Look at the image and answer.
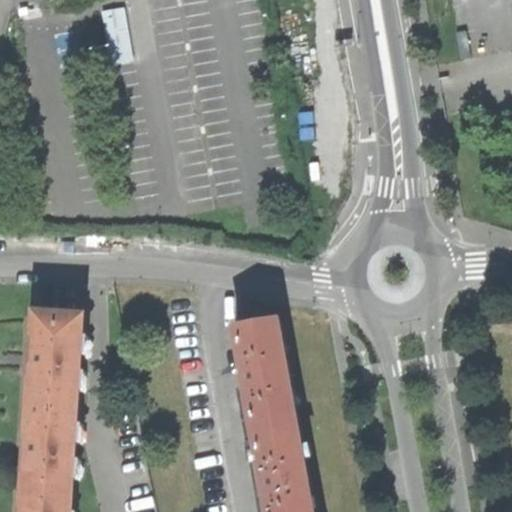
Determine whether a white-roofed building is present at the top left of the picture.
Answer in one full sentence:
Yes, I can see a white-roofed building at the top left of the picture.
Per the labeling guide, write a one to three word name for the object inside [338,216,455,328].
roundabout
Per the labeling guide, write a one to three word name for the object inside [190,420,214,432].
vehicle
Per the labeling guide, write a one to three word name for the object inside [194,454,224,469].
vehicle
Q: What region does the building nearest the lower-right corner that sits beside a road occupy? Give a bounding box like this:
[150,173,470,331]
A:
[228,316,315,512]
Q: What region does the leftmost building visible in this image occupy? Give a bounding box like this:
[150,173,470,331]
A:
[14,306,94,512]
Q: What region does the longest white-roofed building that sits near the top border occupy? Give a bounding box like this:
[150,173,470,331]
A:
[101,7,134,64]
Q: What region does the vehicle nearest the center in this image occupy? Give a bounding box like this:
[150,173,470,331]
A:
[224,292,236,325]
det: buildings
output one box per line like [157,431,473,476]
[456,30,470,60]
[101,7,134,64]
[14,306,94,512]
[228,316,315,512]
